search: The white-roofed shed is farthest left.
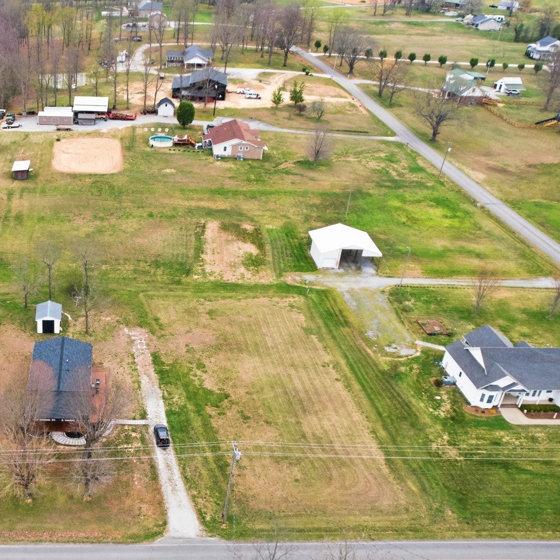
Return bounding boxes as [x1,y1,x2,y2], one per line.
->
[10,160,29,179]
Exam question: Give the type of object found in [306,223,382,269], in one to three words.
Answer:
building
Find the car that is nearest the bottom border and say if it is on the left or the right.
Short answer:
left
